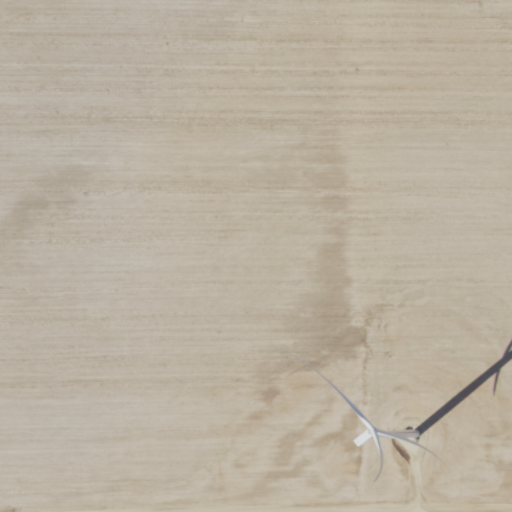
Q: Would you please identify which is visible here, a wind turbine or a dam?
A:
wind turbine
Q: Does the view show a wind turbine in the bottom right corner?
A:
Yes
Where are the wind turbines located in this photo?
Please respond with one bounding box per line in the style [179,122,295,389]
[318,371,440,480]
